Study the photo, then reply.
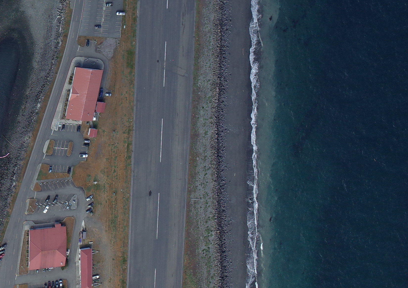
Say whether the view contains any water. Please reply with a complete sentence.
Yes, there's water in this view.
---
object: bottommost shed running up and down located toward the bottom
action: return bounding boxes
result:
[79,247,92,288]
